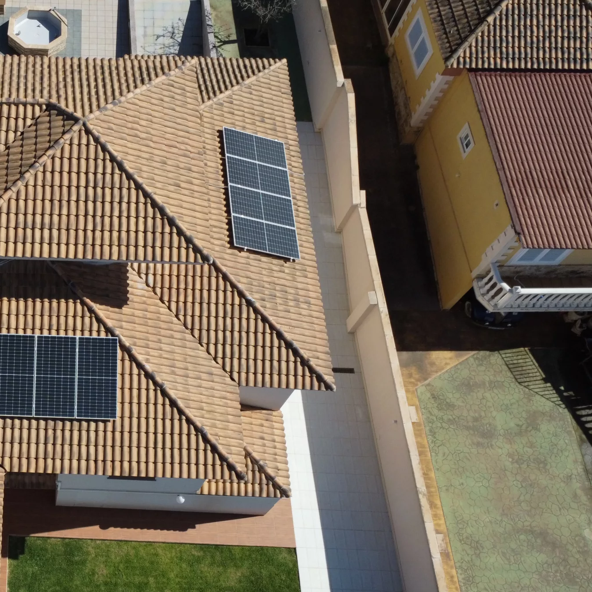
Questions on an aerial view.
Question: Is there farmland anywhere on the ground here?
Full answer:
No, the picture contains no farmland.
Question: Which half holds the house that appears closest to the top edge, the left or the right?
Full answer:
The house that appears closest to the top edge is on the right side of the image.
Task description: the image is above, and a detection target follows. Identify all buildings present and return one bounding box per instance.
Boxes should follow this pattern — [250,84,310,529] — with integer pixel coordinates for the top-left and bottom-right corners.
[370,0,592,318]
[0,49,340,592]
